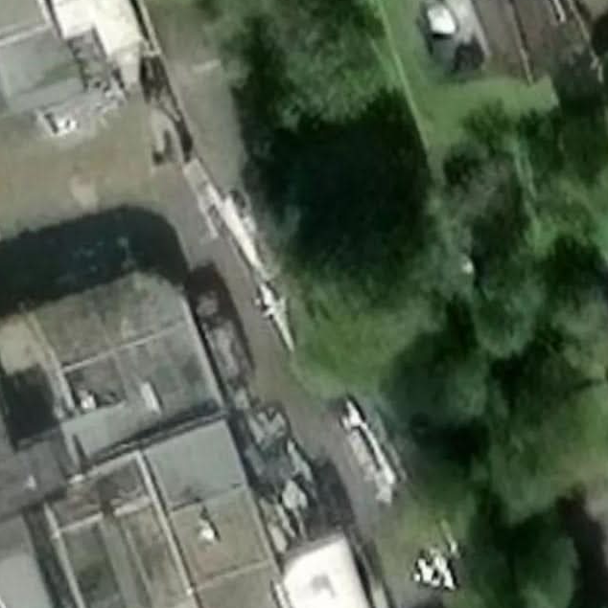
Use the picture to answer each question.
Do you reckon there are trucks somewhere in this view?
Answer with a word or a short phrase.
Yes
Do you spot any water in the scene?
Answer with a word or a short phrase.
No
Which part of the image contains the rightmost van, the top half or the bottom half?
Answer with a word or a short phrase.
top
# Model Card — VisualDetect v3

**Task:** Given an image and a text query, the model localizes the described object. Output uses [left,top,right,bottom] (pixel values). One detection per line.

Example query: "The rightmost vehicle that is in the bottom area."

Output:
[338,403,399,503]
